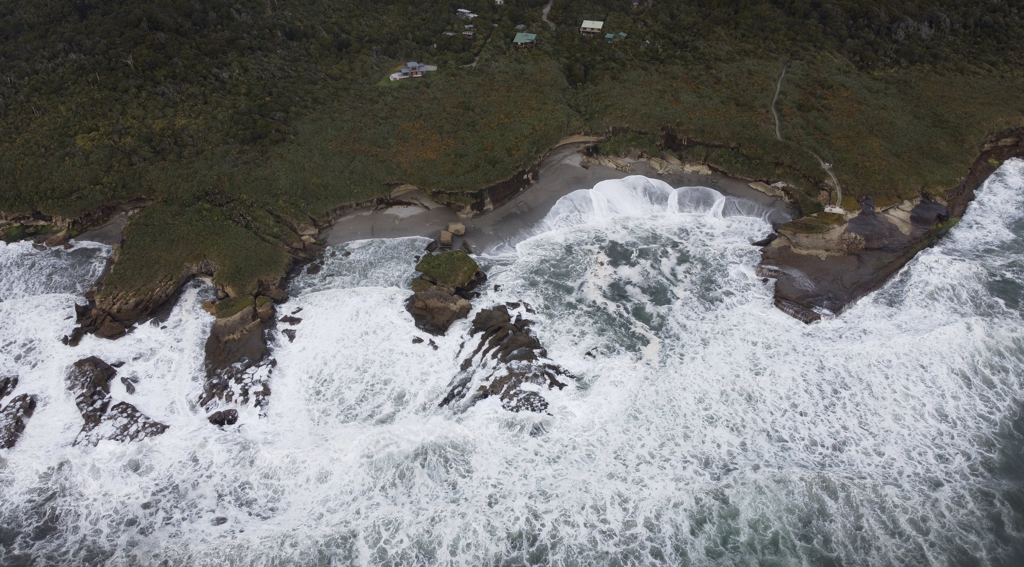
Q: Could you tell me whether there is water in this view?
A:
Yes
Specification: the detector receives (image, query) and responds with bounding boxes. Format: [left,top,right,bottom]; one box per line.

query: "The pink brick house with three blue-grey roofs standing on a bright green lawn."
[399,64,430,83]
